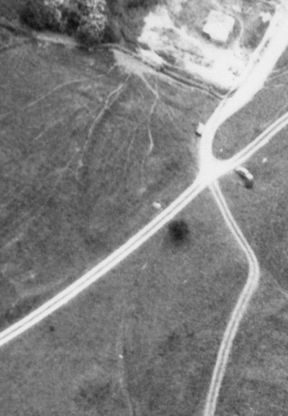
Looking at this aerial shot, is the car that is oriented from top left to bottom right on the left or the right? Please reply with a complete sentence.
The car that is oriented from top left to bottom right sits on the right side.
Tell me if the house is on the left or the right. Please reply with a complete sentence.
The house sits on the right side.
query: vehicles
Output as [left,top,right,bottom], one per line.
[195,121,209,137]
[235,164,256,184]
